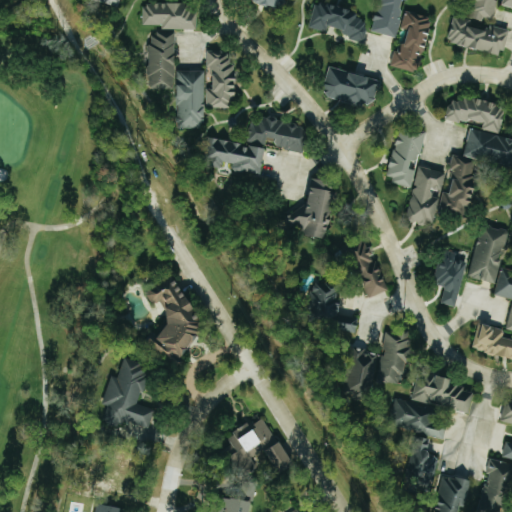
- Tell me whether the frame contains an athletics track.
No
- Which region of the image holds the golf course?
left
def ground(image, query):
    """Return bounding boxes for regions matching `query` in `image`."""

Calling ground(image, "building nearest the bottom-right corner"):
[484,458,510,509]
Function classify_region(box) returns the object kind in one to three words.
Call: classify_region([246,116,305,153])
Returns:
house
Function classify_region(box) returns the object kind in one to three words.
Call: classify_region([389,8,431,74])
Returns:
house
